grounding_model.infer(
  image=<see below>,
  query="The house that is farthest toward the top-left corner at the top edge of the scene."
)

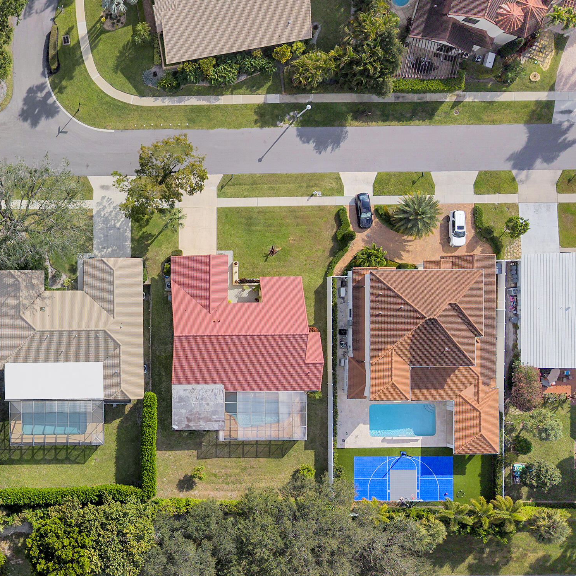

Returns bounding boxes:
[152,0,313,65]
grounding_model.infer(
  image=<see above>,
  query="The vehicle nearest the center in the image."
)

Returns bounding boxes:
[353,193,373,229]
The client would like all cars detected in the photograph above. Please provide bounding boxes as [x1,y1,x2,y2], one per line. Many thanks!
[353,193,373,229]
[445,209,466,246]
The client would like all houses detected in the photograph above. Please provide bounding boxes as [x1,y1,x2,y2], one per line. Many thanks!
[342,253,500,454]
[170,253,325,430]
[0,257,144,399]
[152,0,313,65]
[510,253,576,368]
[401,0,550,57]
